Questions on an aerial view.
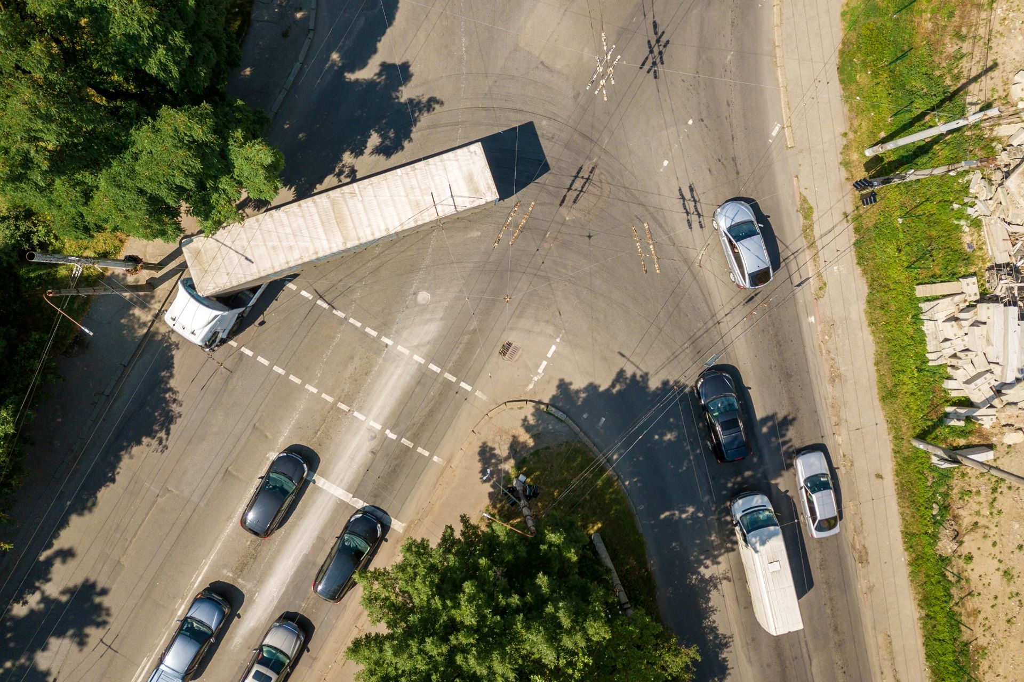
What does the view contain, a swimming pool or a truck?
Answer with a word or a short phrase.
truck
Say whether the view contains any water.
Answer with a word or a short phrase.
No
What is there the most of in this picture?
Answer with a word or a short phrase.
paved ground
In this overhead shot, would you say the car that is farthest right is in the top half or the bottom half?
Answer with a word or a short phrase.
bottom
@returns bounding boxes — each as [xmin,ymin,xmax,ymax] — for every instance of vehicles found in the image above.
[241,615,309,682]
[242,450,311,538]
[156,142,499,366]
[313,509,385,604]
[731,492,804,634]
[144,590,232,682]
[716,198,772,289]
[791,450,840,537]
[697,368,753,461]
